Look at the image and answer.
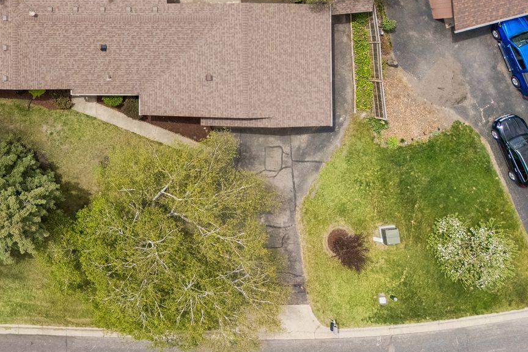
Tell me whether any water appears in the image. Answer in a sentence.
No, water can't be seen anywhere here.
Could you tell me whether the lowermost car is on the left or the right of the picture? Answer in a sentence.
The lowermost car is on the right side of the image.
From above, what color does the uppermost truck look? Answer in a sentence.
The uppermost truck is blue.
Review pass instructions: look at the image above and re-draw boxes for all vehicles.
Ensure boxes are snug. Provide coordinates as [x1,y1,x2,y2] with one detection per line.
[489,17,528,101]
[491,114,528,188]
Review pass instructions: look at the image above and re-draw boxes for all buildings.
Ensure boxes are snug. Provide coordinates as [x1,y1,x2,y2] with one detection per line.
[423,0,528,33]
[0,0,331,127]
[332,0,375,16]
